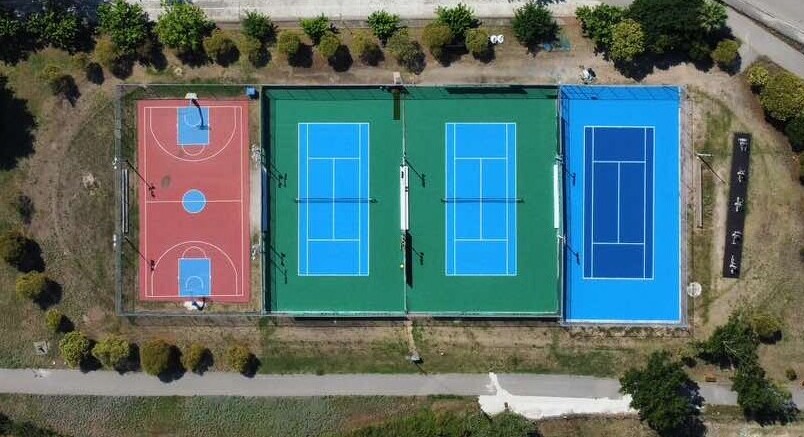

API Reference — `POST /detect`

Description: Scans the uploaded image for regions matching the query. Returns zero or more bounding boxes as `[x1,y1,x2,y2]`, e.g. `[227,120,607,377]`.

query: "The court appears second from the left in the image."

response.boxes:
[264,88,405,312]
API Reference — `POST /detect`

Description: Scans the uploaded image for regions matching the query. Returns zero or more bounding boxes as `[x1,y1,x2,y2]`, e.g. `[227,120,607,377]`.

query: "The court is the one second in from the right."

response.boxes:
[405,88,558,312]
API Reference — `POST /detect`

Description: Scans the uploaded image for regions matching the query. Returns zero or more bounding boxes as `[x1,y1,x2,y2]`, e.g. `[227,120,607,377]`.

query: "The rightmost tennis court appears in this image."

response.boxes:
[561,88,681,321]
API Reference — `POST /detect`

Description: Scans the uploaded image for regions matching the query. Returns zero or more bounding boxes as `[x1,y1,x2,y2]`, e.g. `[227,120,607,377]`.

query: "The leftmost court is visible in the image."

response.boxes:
[137,98,250,301]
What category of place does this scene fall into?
sports ground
